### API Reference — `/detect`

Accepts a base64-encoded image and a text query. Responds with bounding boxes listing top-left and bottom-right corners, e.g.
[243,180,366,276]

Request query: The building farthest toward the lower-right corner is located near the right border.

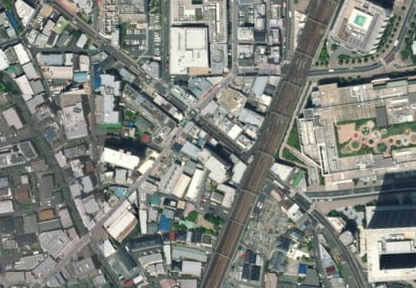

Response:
[362,226,416,286]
